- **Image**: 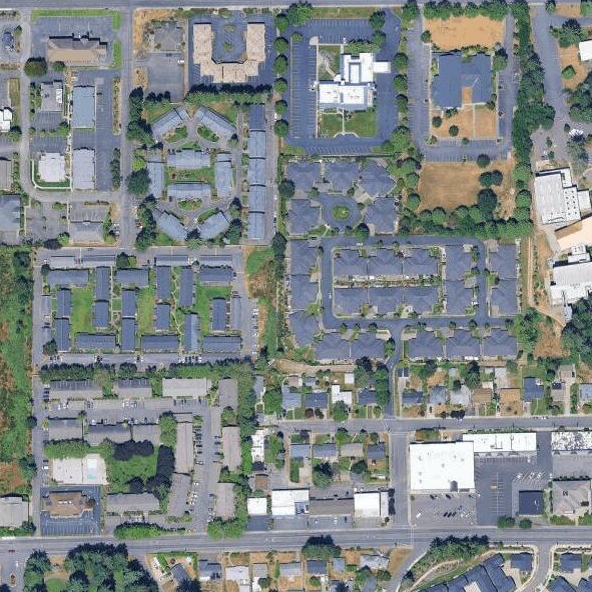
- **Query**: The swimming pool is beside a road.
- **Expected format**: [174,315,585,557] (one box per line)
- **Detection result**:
[53,453,107,486]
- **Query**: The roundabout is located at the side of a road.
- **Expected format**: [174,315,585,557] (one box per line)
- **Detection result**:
[321,191,361,232]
